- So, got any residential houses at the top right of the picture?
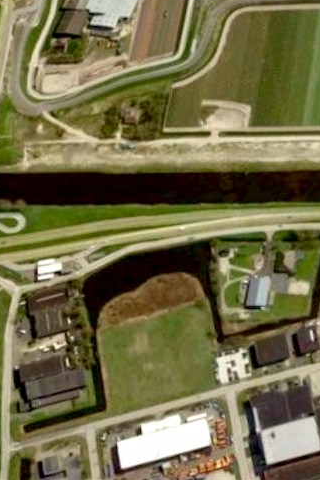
No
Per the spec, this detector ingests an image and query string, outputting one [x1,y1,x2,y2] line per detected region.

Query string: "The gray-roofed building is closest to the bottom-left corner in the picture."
[42,454,62,476]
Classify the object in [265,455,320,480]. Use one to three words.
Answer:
building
